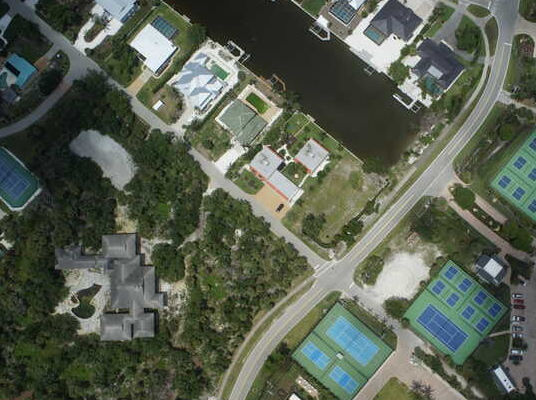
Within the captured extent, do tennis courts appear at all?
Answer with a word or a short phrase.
Yes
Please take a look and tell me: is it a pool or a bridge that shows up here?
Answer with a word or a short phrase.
pool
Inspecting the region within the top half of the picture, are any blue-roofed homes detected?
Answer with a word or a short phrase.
Yes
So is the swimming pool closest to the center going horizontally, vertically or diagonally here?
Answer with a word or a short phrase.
diagonally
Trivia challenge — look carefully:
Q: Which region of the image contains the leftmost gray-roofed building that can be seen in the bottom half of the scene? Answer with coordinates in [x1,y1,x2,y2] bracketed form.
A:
[54,234,165,342]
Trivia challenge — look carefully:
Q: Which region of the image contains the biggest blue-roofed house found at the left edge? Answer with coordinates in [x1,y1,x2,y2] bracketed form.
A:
[7,52,39,90]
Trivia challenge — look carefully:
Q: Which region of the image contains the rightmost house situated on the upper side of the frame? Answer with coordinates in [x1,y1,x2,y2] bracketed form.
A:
[413,39,465,92]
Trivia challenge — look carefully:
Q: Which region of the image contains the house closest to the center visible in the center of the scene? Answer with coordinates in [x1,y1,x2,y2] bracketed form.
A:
[249,146,304,204]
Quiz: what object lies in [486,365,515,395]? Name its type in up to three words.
shed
